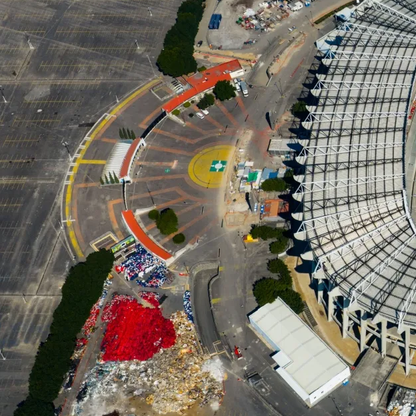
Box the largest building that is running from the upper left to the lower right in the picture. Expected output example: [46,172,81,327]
[248,296,351,408]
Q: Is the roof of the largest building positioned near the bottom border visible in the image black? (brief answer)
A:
No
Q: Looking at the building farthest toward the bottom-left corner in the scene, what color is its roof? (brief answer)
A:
red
